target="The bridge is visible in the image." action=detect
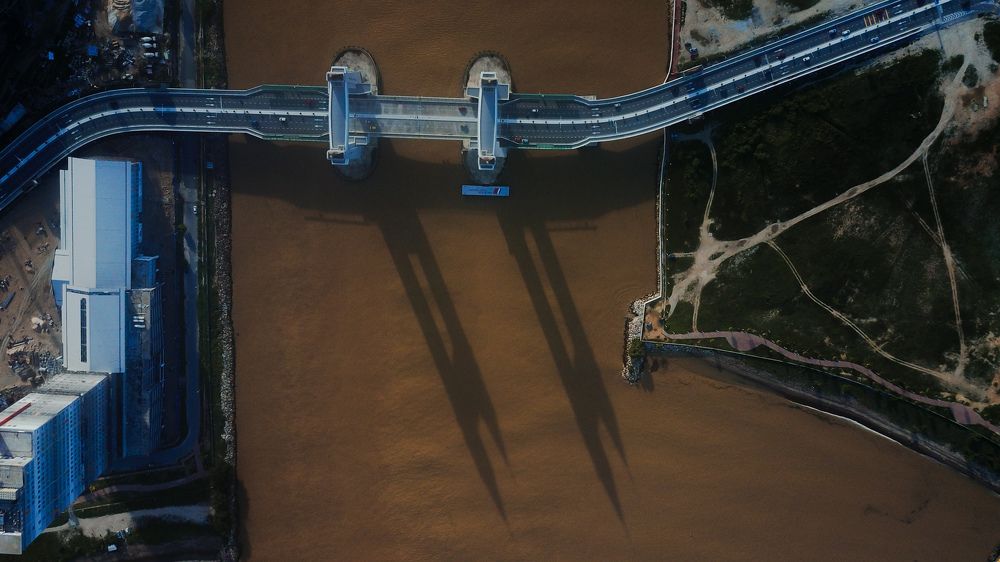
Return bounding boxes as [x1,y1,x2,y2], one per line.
[0,0,967,211]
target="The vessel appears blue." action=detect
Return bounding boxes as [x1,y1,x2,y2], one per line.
[462,184,509,196]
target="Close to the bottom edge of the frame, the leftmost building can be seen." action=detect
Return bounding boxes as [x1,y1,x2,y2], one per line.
[0,364,115,554]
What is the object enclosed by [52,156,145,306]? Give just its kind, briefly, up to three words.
building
